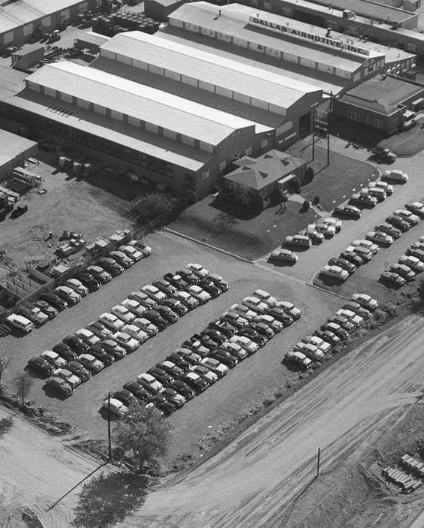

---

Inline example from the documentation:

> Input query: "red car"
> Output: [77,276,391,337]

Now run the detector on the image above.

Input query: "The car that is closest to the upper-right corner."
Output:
[367,149,400,163]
